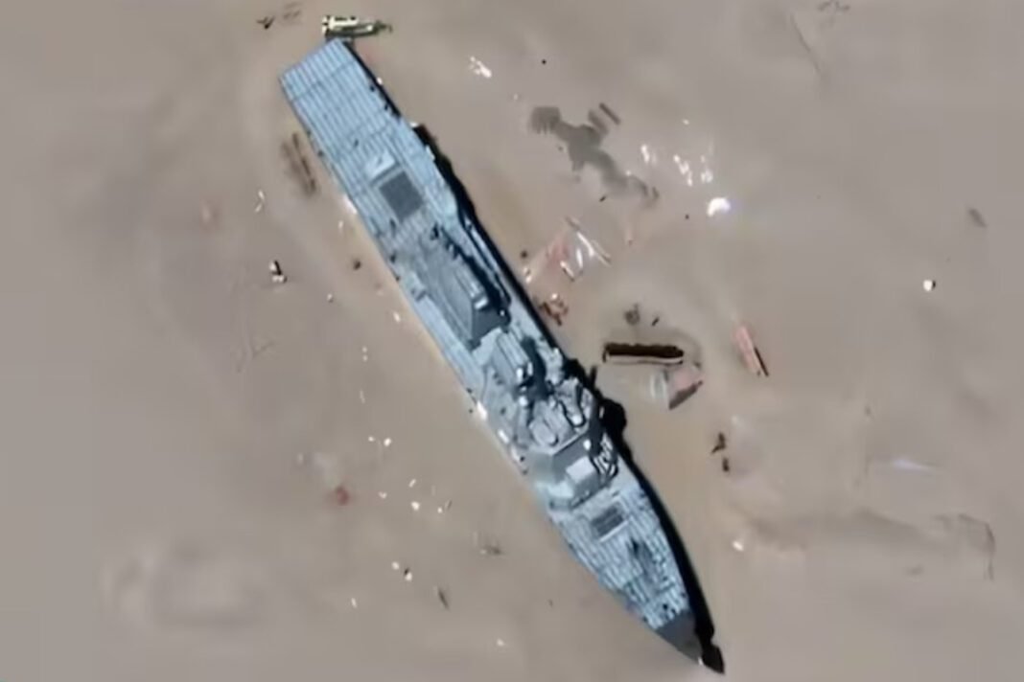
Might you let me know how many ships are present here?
one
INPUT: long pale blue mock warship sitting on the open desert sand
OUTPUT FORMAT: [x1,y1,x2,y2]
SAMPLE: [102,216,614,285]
[280,38,704,665]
